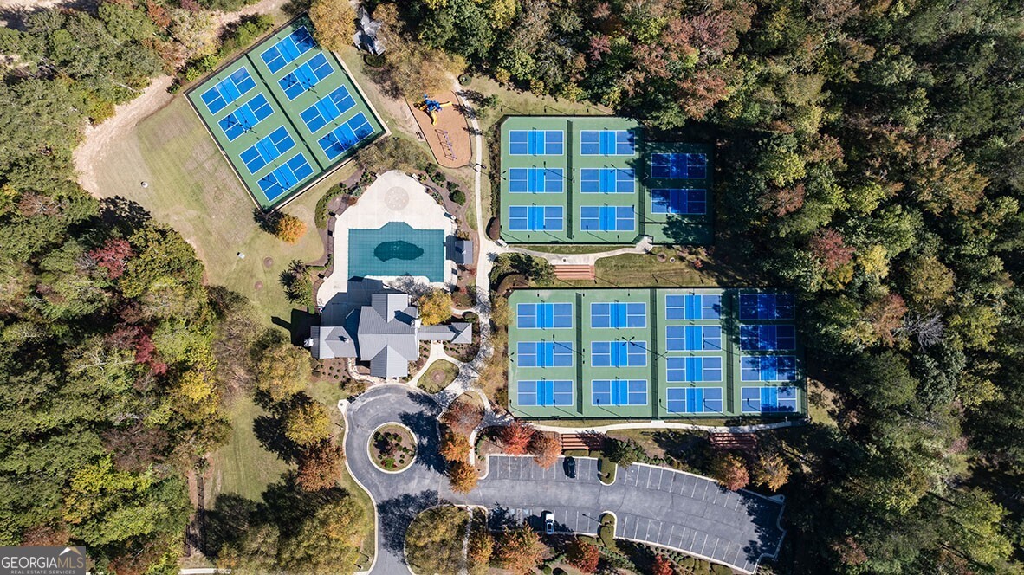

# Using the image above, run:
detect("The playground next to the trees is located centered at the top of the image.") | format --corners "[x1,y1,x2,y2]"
[404,86,472,168]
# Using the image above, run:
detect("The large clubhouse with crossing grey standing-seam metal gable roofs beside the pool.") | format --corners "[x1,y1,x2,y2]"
[306,293,472,380]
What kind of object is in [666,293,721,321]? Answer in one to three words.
sports court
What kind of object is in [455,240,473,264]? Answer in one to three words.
building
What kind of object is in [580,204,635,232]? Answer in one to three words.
sports court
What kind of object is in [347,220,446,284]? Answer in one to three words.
swimming pool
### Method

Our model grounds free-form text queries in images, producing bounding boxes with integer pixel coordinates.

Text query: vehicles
[567,459,576,478]
[546,514,554,534]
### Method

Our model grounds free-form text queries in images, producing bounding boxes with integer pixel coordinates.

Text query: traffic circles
[344,386,445,497]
